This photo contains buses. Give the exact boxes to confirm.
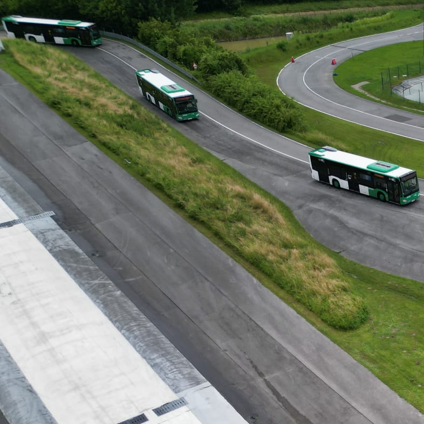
[5,21,100,47]
[308,142,424,206]
[138,70,200,120]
